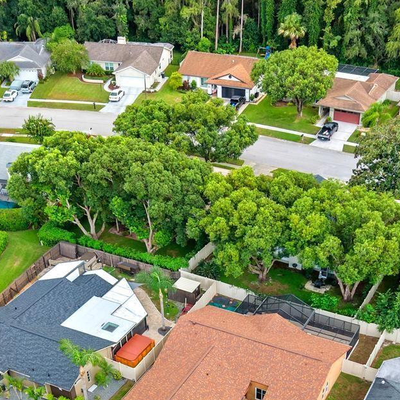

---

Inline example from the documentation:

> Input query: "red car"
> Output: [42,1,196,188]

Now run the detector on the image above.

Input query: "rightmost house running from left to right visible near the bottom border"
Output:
[123,305,353,400]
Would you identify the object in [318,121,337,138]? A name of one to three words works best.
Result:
vehicle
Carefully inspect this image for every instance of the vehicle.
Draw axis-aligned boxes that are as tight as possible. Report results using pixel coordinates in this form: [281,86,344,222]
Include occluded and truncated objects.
[109,91,122,102]
[20,80,34,93]
[229,93,244,108]
[9,82,22,92]
[318,121,337,138]
[2,92,15,102]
